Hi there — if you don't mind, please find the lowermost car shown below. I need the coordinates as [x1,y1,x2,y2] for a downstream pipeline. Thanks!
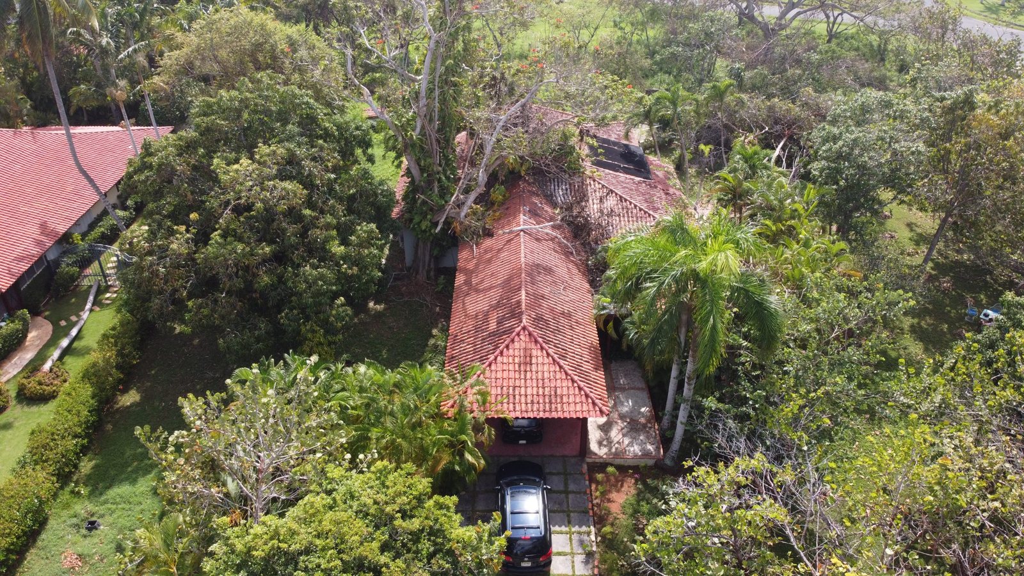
[493,455,553,574]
